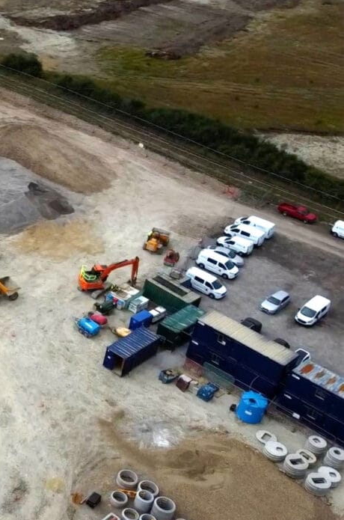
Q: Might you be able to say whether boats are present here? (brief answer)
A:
No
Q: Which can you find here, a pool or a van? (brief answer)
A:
van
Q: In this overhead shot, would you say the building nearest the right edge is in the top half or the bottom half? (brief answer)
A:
bottom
